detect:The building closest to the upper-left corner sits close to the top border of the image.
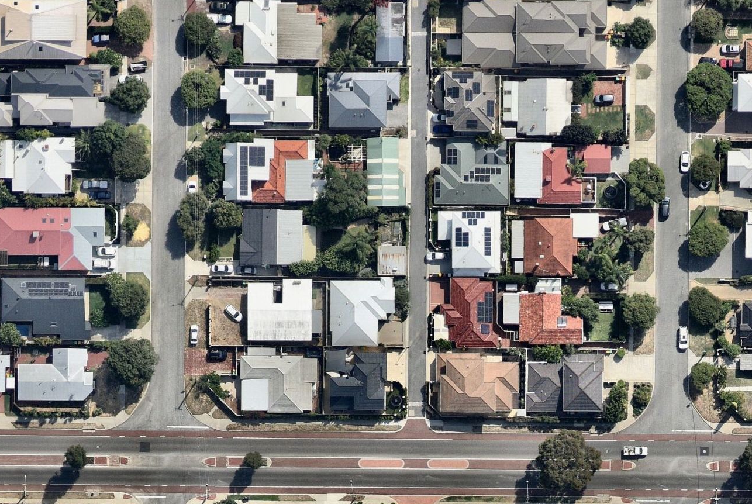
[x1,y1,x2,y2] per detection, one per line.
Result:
[0,0,88,59]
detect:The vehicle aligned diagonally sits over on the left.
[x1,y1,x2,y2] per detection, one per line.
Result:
[224,303,241,321]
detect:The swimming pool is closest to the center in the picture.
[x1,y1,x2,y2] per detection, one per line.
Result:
[328,142,347,161]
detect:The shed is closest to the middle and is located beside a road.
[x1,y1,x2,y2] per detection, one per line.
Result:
[378,245,406,276]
